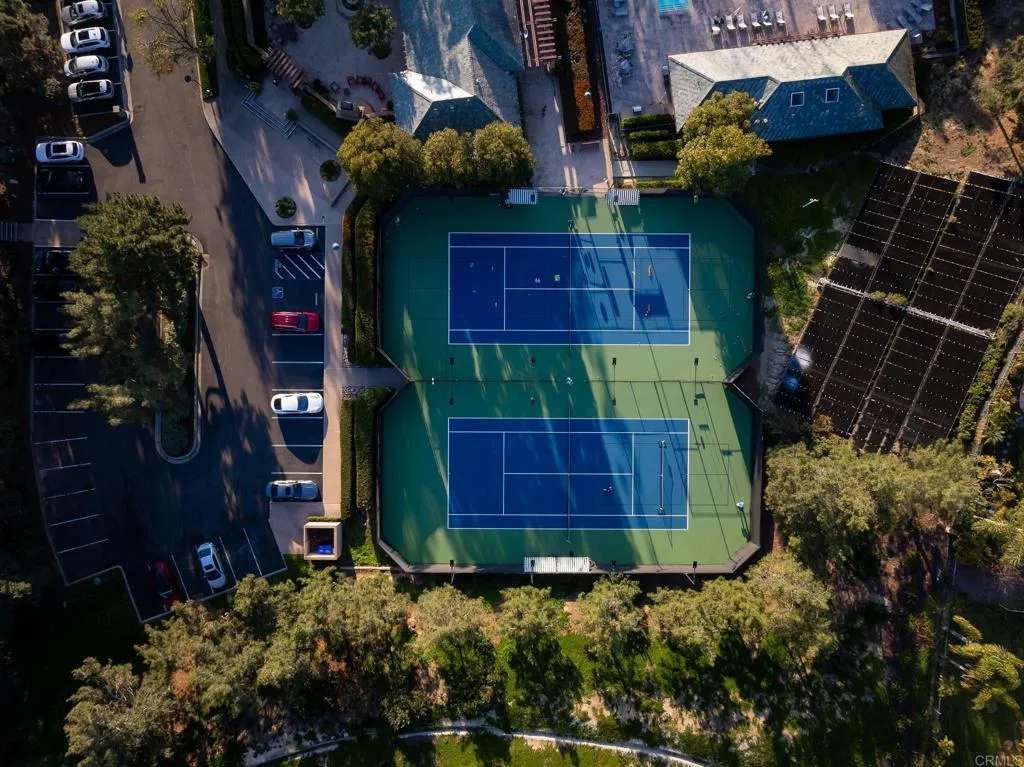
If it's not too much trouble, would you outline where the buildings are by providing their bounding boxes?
[390,0,524,146]
[668,28,918,140]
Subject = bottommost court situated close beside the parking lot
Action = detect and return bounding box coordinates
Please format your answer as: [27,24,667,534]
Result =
[380,382,752,564]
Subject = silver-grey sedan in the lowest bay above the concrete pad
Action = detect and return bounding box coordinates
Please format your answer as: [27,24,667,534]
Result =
[268,479,318,501]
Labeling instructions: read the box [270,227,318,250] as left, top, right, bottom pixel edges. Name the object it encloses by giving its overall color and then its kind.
blue car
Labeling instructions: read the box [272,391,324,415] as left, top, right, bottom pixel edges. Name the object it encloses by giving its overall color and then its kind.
white car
